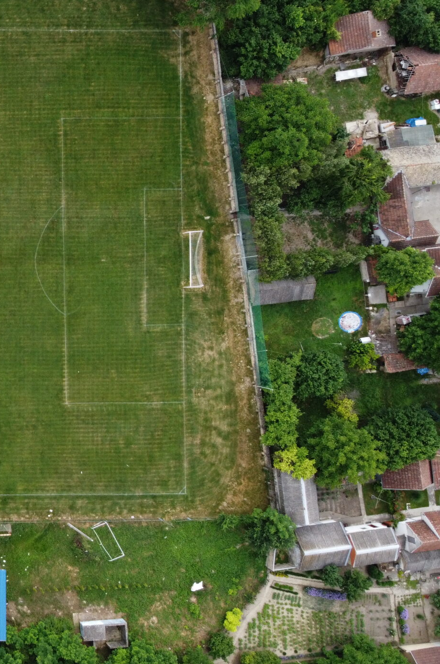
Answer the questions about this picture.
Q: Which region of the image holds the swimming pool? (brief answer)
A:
right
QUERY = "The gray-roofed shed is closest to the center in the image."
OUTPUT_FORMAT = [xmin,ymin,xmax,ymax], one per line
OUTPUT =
[249,276,316,306]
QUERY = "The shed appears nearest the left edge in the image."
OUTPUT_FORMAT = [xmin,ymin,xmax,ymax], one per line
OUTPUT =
[75,615,128,647]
